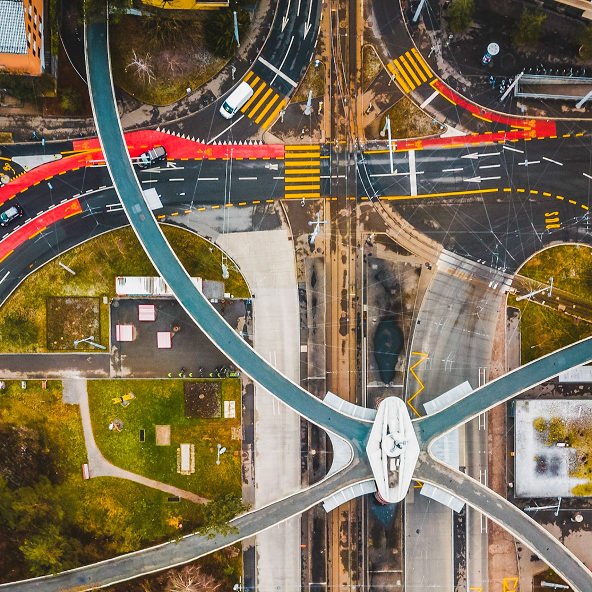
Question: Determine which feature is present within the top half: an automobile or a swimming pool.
automobile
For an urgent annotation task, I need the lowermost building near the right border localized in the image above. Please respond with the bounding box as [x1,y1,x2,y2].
[514,398,592,499]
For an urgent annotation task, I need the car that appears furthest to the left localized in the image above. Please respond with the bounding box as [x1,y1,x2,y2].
[0,203,25,227]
